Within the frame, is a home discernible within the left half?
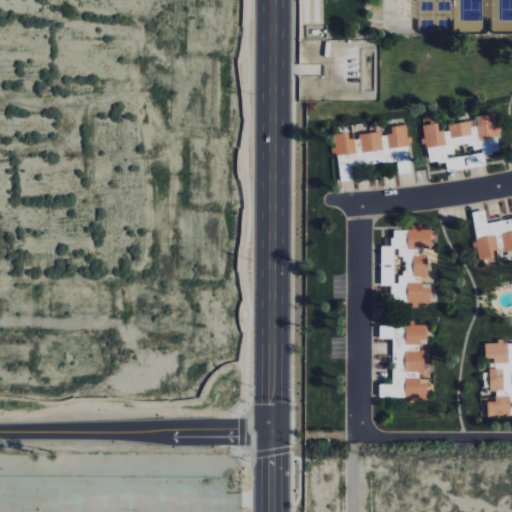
No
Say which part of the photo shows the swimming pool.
right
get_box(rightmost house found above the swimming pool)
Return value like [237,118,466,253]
[473,210,512,262]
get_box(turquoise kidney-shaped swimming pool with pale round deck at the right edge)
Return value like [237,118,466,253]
[492,285,512,318]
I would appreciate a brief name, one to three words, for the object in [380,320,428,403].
house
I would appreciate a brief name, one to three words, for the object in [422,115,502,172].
house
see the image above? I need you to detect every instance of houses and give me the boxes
[422,115,502,172]
[332,124,413,182]
[380,320,428,403]
[382,230,432,308]
[486,340,512,417]
[473,210,512,262]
